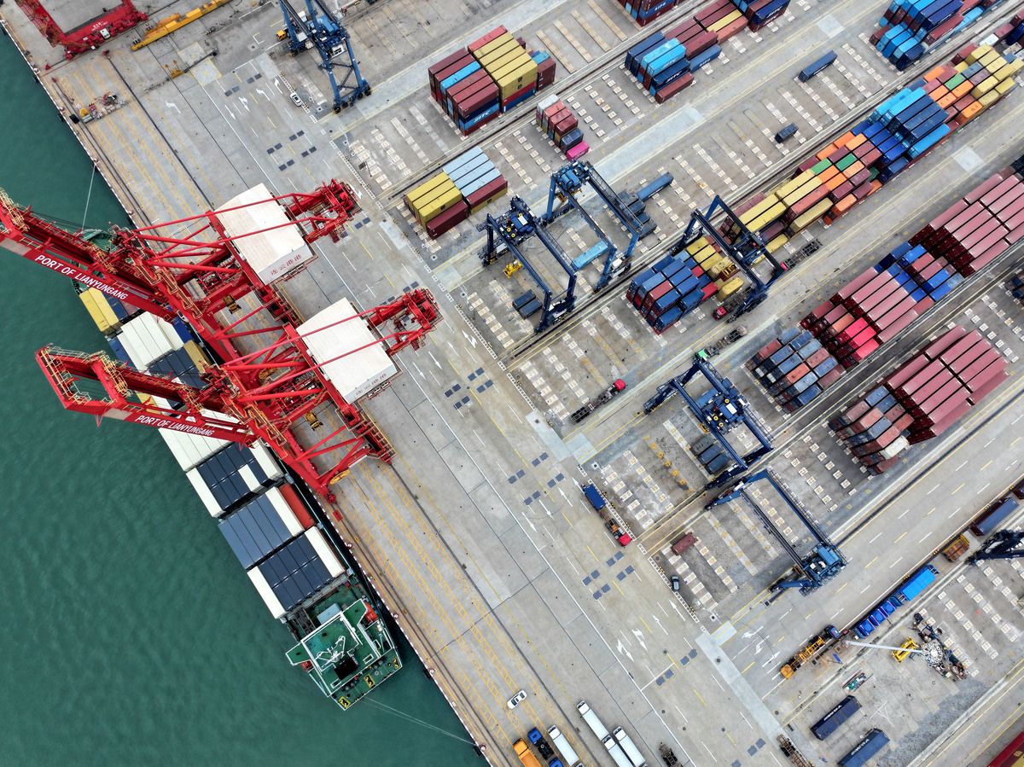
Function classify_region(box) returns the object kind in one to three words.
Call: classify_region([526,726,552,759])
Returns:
truck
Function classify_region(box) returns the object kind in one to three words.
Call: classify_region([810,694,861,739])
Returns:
shipping container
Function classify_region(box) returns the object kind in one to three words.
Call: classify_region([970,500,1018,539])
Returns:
shipping container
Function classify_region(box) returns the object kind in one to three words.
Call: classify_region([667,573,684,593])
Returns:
car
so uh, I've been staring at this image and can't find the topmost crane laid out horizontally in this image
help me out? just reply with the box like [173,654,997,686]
[10,0,147,61]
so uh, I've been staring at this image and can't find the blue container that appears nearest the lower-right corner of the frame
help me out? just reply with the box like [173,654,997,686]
[837,727,889,767]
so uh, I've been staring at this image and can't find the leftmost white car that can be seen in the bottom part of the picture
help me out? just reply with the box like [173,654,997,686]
[507,690,527,710]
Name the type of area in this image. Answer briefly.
port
